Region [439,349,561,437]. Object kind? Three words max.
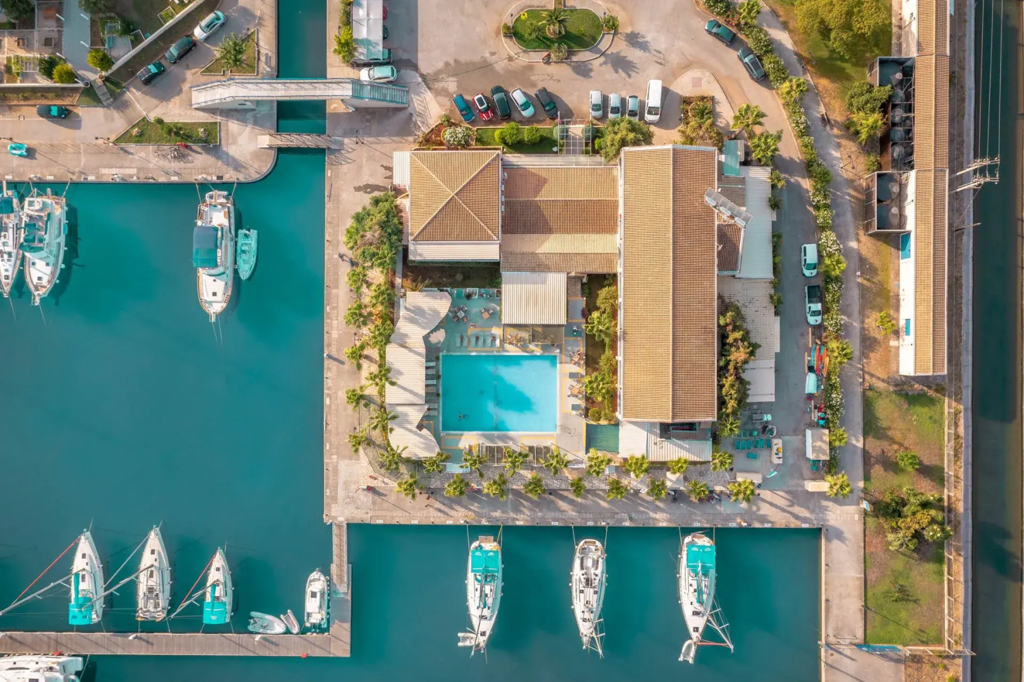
swimming pool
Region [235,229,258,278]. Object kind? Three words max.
boat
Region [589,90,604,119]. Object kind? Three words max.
car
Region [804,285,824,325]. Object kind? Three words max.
vehicle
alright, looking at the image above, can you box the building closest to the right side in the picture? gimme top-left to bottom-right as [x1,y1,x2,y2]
[899,0,951,376]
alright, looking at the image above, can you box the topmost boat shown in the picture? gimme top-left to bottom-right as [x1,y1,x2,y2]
[7,143,28,156]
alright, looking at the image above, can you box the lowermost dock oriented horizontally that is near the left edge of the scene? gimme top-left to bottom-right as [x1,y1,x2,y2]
[0,588,351,657]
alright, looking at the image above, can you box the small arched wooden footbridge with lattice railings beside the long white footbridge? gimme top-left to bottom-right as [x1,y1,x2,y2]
[258,132,344,148]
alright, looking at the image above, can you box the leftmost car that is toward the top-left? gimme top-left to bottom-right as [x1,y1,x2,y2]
[36,103,70,120]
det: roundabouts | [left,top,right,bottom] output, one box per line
[502,0,615,62]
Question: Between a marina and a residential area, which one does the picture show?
marina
